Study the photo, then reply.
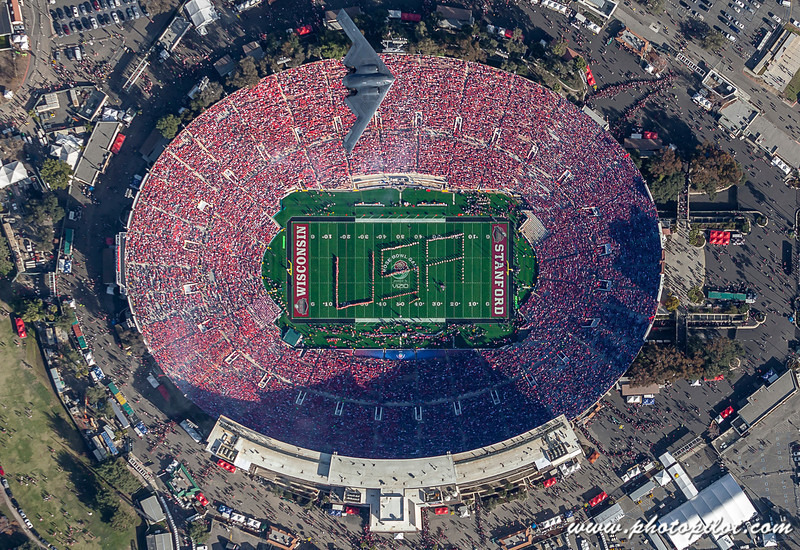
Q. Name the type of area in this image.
sports ground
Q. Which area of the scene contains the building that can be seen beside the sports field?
bottom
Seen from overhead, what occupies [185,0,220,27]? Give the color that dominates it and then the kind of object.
white tent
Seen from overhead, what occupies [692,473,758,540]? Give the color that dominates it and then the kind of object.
white tent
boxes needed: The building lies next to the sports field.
[208,413,580,530]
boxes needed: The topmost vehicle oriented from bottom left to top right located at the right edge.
[757,29,773,52]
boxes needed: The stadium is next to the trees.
[125,52,665,456]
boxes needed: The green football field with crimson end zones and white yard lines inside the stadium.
[262,188,537,348]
